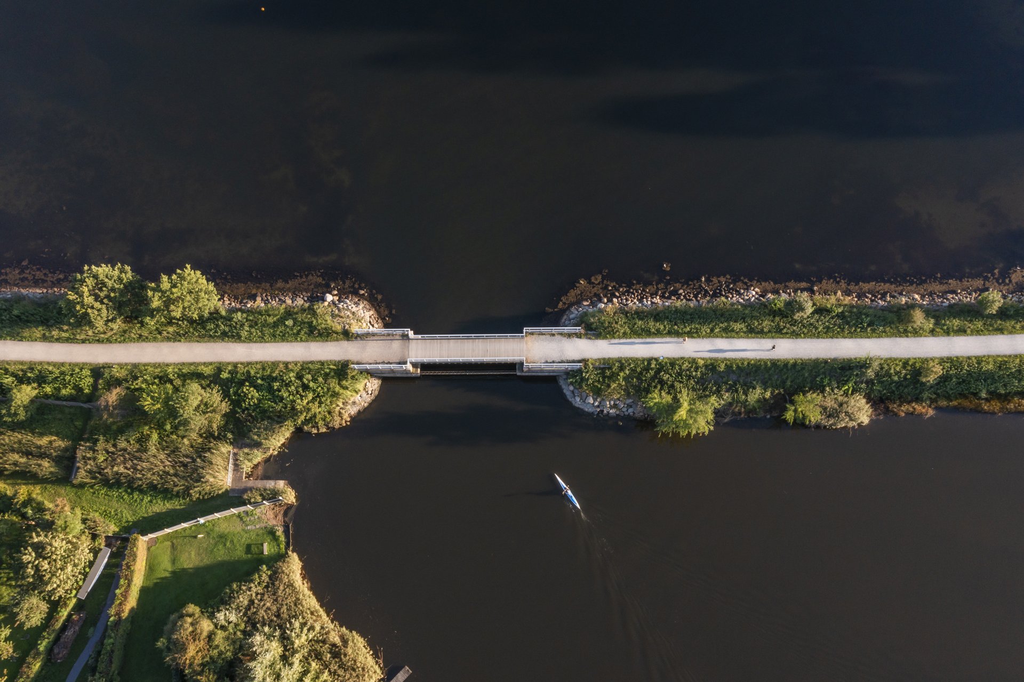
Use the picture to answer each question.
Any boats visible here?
Yes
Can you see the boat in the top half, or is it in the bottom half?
bottom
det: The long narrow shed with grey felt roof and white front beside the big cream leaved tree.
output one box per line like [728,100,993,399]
[76,546,114,600]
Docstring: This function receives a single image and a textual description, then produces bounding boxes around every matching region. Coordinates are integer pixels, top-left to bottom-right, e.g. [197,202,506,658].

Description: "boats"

[555,474,580,509]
